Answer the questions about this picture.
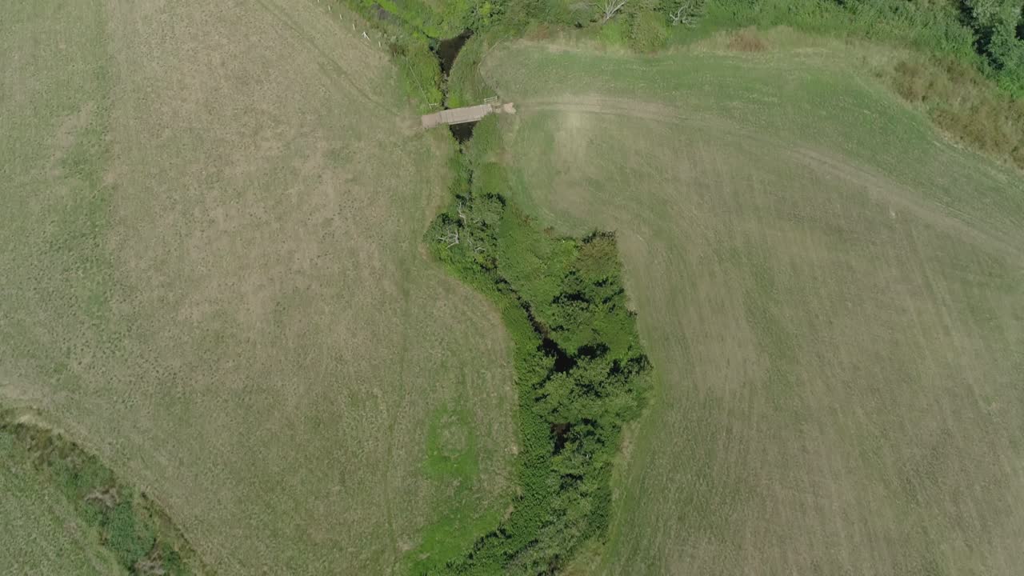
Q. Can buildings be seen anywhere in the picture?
No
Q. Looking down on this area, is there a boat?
No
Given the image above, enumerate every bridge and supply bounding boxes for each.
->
[421,104,497,128]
